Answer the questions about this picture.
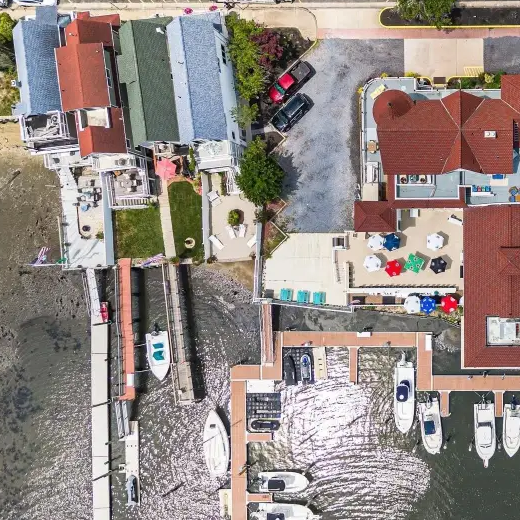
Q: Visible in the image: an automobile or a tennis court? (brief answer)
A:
automobile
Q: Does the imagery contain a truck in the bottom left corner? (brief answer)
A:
No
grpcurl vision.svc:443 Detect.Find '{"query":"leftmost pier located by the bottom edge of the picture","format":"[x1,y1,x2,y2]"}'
[91,322,112,520]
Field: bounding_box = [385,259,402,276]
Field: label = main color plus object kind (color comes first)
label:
red umbrella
